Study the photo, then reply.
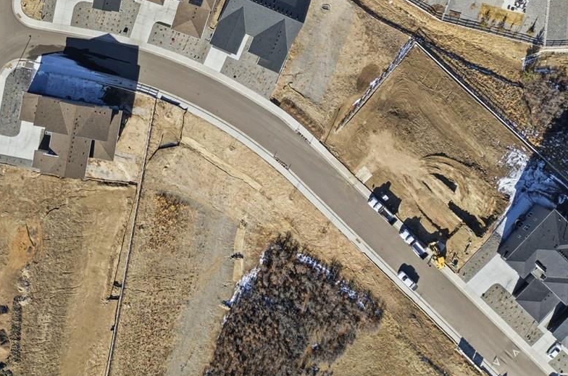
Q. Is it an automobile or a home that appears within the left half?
home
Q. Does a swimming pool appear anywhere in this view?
No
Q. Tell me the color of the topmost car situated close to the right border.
white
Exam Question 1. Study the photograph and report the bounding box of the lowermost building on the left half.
[19,89,120,178]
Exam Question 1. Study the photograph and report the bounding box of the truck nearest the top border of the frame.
[369,199,402,230]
